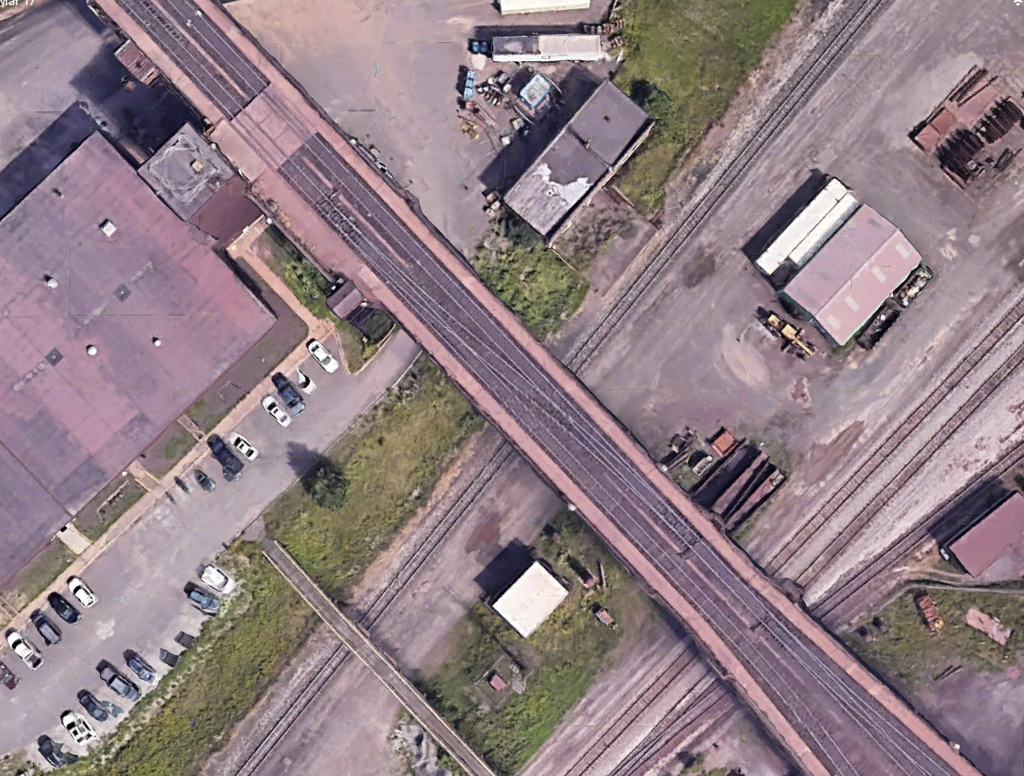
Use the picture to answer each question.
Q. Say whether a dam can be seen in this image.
No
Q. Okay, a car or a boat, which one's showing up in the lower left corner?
car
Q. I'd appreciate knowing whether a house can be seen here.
Yes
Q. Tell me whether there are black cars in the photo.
Yes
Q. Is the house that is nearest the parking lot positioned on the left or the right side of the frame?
left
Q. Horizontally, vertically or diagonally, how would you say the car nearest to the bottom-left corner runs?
diagonally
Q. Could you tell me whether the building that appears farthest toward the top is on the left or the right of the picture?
left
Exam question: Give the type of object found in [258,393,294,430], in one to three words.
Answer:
car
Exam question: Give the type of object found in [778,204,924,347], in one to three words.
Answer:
building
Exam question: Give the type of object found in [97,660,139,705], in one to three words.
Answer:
vehicle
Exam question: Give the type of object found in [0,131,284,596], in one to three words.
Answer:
building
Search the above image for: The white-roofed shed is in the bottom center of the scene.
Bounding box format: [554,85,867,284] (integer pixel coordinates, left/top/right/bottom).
[493,559,568,638]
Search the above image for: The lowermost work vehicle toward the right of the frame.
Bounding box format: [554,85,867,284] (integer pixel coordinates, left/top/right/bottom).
[764,305,820,359]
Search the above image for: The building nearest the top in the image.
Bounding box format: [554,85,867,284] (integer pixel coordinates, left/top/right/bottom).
[112,37,182,103]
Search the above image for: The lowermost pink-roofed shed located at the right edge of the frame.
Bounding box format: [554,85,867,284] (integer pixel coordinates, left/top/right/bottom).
[941,487,1024,577]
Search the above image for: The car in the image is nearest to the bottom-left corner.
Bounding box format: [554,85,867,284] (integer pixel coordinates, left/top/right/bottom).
[34,734,70,772]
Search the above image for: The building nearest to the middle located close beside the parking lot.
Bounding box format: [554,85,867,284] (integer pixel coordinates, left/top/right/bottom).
[327,280,384,352]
